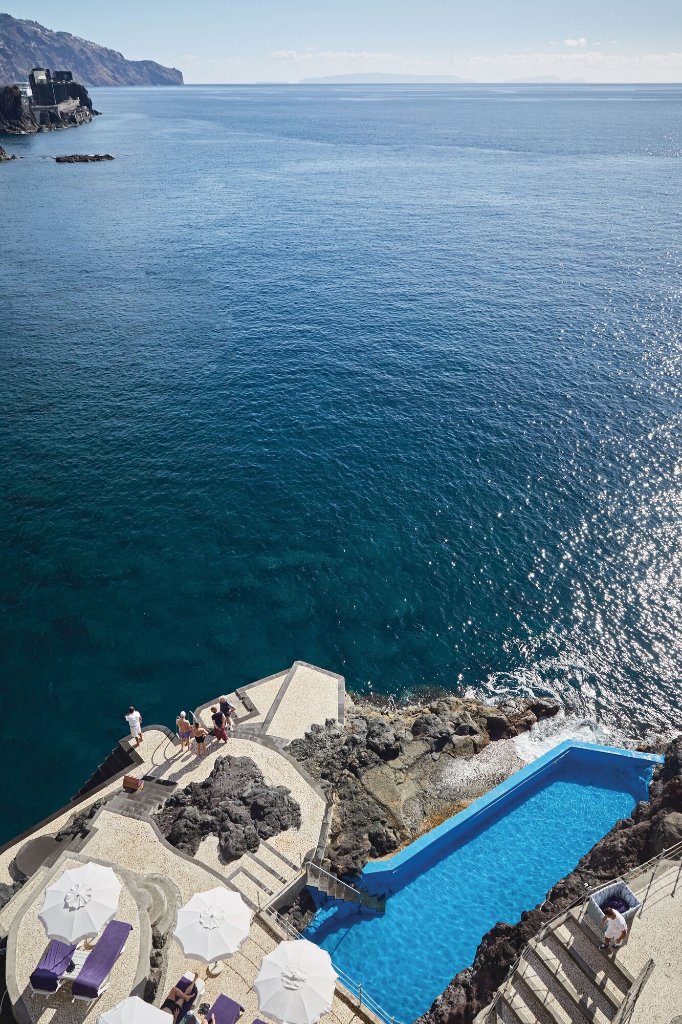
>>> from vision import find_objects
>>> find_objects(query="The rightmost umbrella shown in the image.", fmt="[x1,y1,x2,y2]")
[256,937,341,1024]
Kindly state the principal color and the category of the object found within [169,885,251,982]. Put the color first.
white umbrella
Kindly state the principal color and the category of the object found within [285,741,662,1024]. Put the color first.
blue swimming pool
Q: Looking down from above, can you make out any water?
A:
Yes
